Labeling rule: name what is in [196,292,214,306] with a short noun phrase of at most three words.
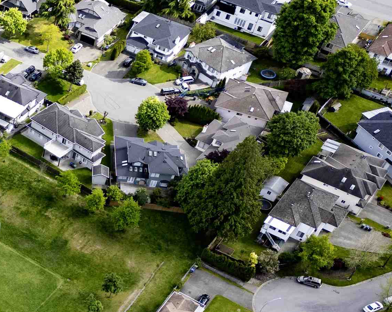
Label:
vehicle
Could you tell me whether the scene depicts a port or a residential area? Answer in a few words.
residential area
